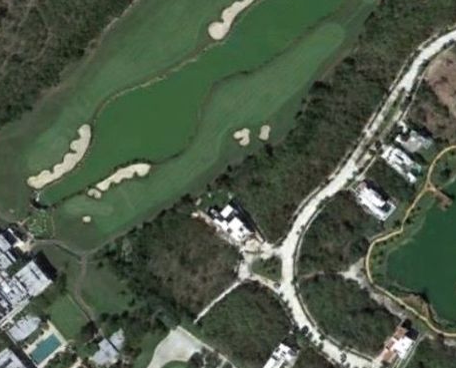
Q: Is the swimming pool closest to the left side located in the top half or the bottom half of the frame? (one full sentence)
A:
The bottom half of the photo is where the swimming pool closest to the left side is.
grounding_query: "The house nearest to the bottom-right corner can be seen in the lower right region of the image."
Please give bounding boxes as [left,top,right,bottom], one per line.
[382,328,421,368]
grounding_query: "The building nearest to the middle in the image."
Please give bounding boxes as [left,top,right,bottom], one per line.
[210,203,260,249]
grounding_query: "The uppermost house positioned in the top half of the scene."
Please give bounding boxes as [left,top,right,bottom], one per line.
[394,130,431,156]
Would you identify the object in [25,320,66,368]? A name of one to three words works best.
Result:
swimming pool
